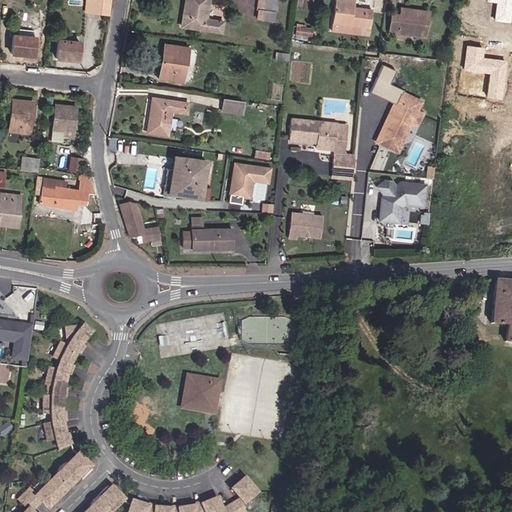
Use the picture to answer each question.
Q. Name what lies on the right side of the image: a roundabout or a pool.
pool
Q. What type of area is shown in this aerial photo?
residential area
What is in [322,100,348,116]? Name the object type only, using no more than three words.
swimming pool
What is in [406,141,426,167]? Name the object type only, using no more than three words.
swimming pool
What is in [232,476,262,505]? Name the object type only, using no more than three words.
house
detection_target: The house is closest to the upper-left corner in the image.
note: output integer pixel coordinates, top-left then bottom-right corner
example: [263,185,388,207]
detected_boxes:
[11,34,38,58]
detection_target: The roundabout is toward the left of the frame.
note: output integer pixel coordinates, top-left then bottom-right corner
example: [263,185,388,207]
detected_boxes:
[64,241,184,330]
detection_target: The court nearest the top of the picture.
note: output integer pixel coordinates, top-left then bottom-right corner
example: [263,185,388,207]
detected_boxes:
[242,316,294,344]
